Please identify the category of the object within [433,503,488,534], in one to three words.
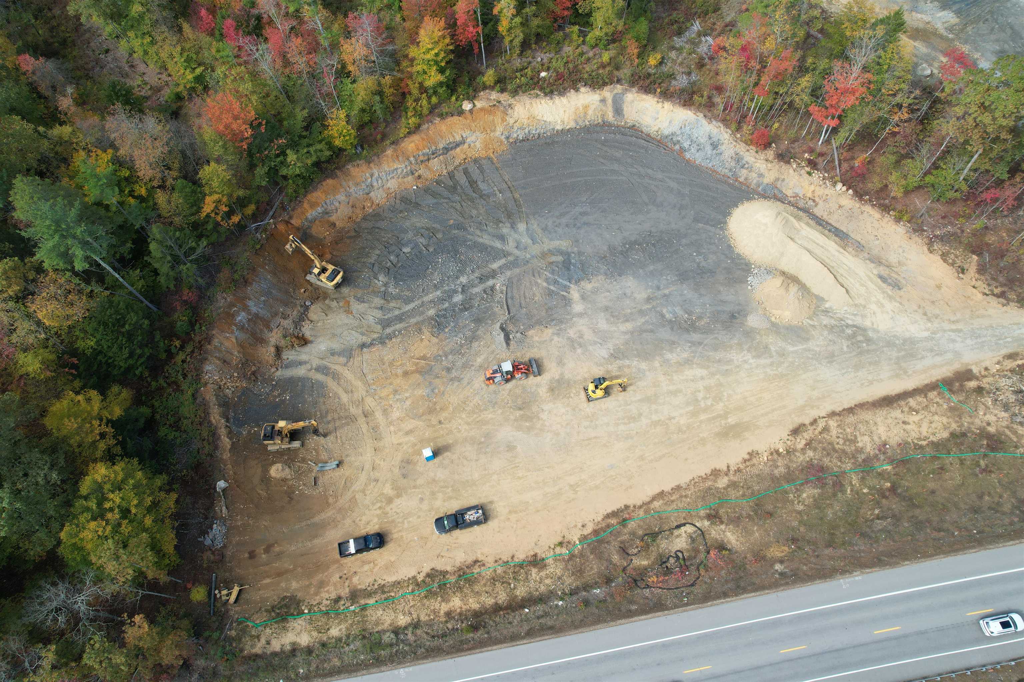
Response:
truck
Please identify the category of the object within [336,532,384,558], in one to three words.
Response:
truck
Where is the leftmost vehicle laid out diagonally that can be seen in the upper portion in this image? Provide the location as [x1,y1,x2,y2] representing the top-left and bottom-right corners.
[292,237,348,289]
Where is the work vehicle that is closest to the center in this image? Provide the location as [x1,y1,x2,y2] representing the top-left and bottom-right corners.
[484,357,543,387]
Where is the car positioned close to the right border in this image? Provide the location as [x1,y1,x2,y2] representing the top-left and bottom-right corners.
[980,615,1024,639]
